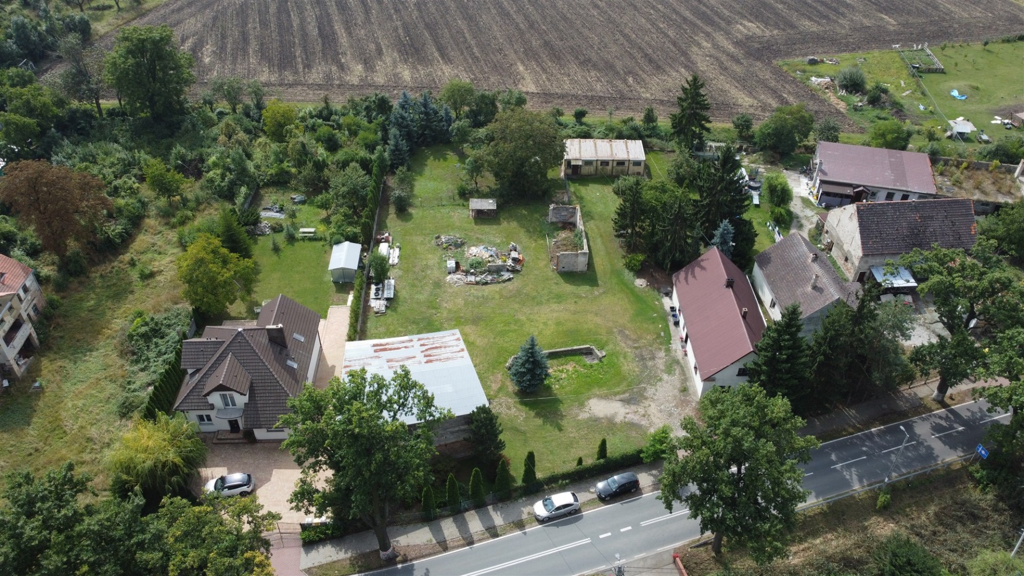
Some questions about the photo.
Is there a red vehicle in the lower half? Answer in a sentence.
No, I see no red vehicle in the lower half.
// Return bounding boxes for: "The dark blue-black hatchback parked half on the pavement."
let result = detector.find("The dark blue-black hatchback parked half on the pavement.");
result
[593,468,640,500]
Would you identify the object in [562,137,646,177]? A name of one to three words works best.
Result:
shed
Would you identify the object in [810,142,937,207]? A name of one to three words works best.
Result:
house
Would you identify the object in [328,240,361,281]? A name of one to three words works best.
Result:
shed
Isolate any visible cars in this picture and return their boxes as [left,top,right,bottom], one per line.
[204,470,256,497]
[532,488,581,520]
[593,468,640,500]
